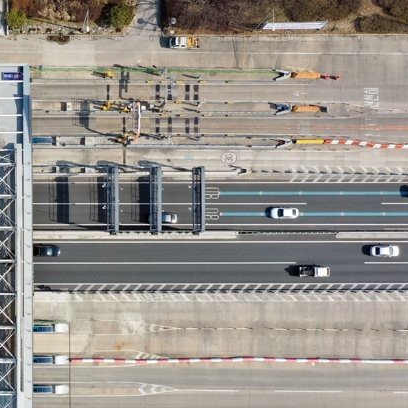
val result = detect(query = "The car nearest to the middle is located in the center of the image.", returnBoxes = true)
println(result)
[161,212,178,224]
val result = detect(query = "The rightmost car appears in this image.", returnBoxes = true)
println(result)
[369,244,398,258]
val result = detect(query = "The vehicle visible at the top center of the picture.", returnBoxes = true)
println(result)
[170,34,200,49]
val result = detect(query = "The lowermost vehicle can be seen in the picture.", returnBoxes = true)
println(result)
[299,264,330,278]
